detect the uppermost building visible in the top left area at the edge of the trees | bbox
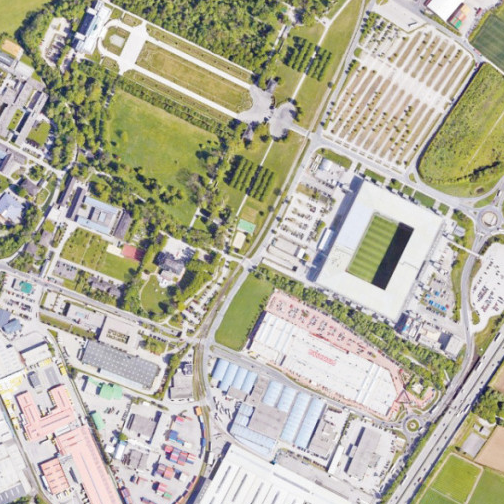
[71,0,111,54]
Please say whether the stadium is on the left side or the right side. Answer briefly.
right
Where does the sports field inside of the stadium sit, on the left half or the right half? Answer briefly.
right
